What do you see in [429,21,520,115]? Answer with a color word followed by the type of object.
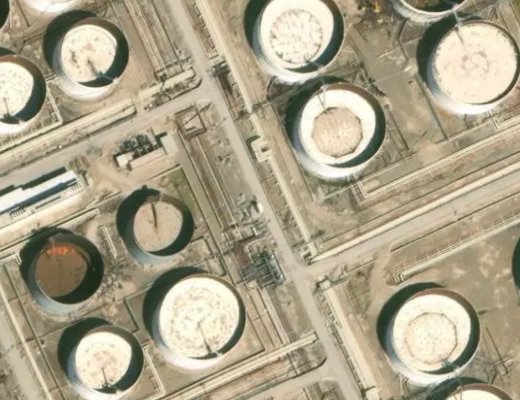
white storage tank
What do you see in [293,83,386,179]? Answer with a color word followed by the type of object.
white storage tank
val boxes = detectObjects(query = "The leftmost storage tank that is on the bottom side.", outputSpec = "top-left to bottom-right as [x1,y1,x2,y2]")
[27,235,105,315]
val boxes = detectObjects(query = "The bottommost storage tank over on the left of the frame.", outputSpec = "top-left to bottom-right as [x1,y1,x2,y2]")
[67,326,144,400]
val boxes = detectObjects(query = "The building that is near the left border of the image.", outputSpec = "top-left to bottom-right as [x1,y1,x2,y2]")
[0,171,76,216]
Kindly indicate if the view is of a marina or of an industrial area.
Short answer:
industrial area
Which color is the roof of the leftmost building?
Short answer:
white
